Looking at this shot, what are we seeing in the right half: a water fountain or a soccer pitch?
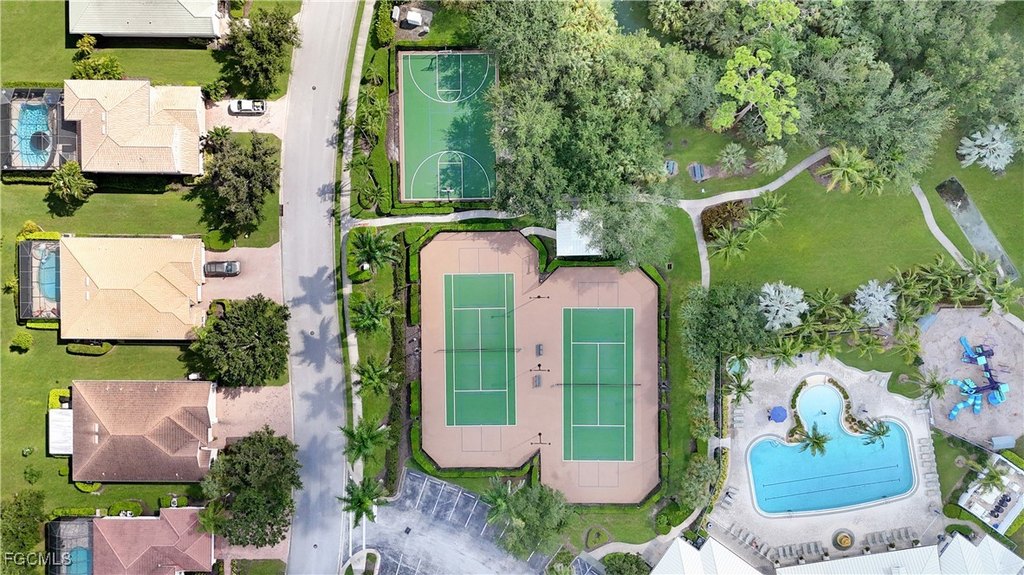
water fountain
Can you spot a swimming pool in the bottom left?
Yes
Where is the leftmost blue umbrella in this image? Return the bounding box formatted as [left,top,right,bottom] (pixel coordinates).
[769,405,787,423]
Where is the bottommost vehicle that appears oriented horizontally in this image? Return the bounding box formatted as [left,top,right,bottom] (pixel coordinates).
[205,261,238,276]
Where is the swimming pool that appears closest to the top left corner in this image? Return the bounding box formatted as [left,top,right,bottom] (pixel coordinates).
[17,102,53,169]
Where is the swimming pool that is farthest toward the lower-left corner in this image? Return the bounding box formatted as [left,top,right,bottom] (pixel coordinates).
[66,545,93,575]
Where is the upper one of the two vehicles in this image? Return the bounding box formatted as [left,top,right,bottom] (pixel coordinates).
[227,98,267,114]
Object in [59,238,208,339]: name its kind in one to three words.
house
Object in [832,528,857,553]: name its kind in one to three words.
fountain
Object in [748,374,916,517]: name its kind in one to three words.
swimming pool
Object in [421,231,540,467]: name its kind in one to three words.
tennis court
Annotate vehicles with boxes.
[227,98,267,114]
[205,261,238,276]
